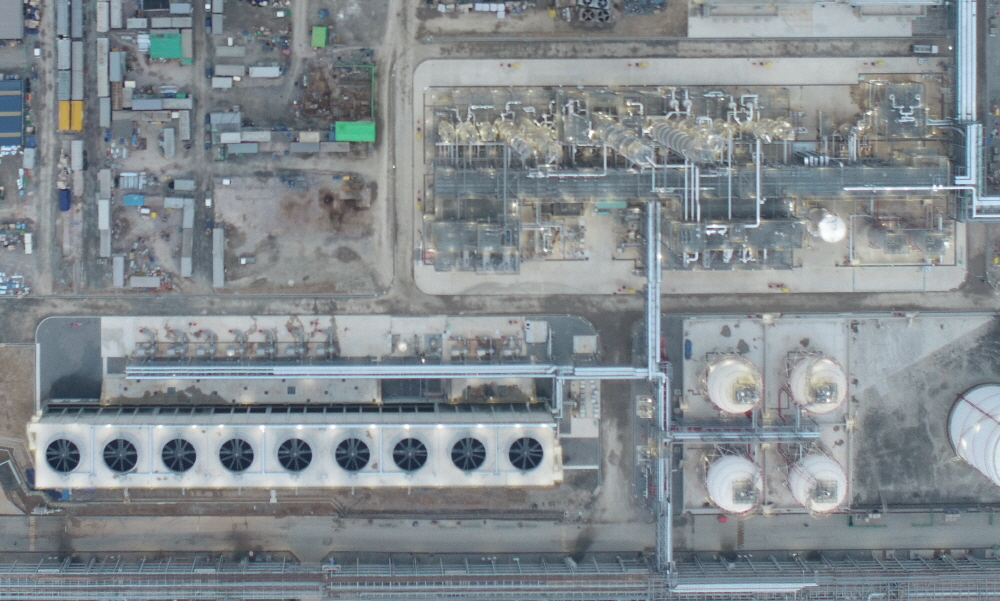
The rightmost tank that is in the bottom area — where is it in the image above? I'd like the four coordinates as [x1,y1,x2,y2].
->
[946,380,1000,490]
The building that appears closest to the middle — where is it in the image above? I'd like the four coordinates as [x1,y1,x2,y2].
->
[523,318,548,343]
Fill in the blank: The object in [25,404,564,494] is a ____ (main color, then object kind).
white cooling tower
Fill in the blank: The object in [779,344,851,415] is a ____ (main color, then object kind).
white storage tank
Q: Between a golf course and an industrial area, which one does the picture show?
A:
industrial area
